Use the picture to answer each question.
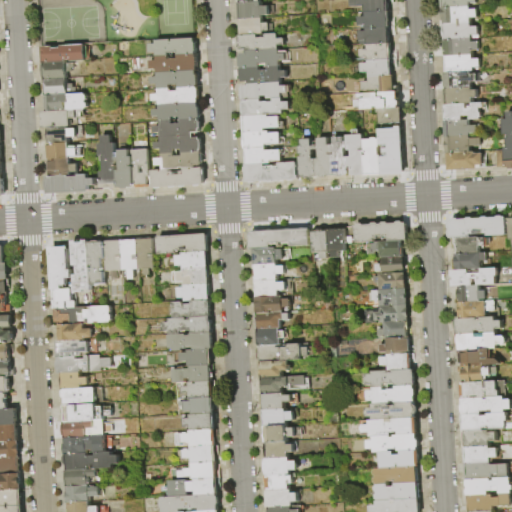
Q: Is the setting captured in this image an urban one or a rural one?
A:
urban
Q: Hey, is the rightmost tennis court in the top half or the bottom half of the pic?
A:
top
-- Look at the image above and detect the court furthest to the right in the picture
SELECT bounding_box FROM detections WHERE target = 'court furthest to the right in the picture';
[159,0,194,34]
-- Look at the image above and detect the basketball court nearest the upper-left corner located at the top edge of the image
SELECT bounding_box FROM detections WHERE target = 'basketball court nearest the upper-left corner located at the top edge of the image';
[42,4,102,42]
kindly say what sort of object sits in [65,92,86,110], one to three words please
building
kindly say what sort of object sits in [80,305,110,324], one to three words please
building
